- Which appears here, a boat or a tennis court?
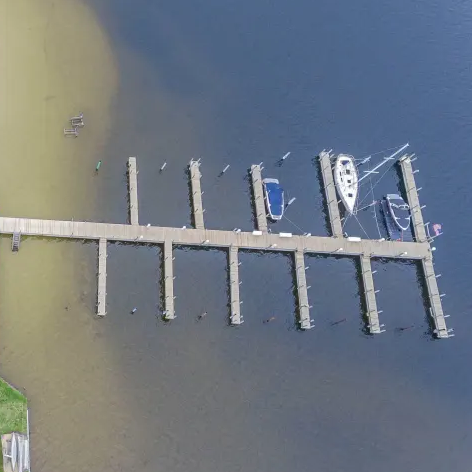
boat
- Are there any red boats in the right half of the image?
No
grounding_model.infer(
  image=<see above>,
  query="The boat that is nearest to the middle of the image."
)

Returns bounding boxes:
[262,178,284,221]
